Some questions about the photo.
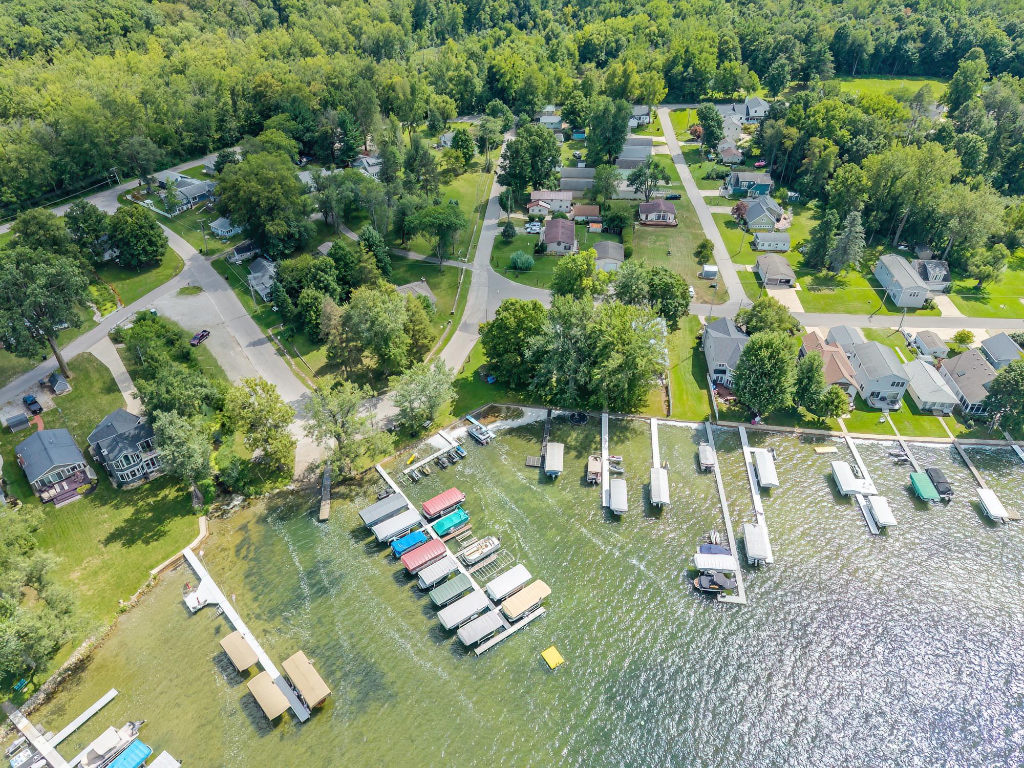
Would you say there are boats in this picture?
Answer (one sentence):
Yes, there's a boat here.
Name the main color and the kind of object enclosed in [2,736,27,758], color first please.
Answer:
white boat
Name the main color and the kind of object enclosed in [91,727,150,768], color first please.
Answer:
white boat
